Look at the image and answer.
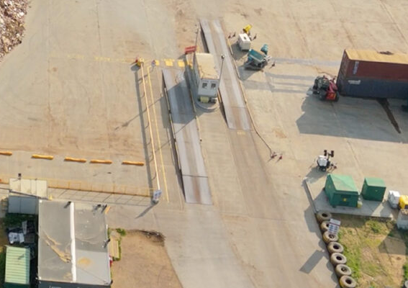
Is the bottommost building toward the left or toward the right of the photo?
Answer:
left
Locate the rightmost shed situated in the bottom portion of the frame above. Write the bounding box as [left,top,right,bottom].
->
[360,177,388,202]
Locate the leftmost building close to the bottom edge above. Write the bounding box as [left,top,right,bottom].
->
[4,246,30,288]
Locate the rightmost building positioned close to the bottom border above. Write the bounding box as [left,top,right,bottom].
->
[37,197,118,288]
